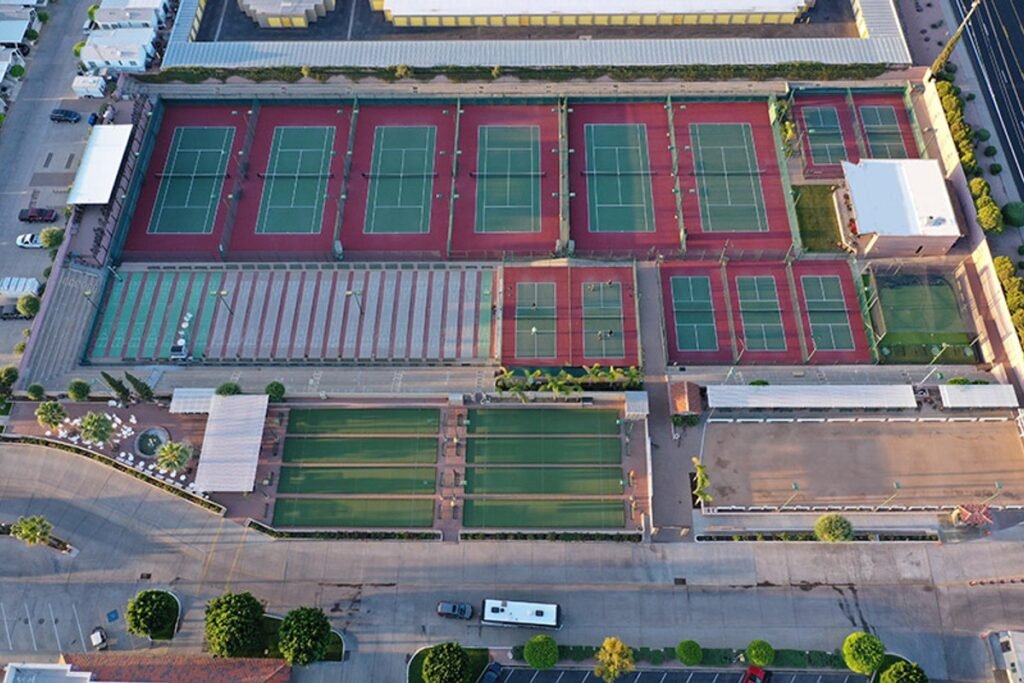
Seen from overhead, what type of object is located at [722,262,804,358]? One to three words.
sports court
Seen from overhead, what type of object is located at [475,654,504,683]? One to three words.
car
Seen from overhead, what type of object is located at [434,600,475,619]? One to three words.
vehicle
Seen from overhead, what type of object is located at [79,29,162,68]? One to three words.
house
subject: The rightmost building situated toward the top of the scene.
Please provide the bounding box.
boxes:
[835,159,960,254]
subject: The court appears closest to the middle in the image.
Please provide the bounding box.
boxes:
[502,267,571,365]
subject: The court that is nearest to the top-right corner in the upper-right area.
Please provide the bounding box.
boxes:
[847,93,927,160]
